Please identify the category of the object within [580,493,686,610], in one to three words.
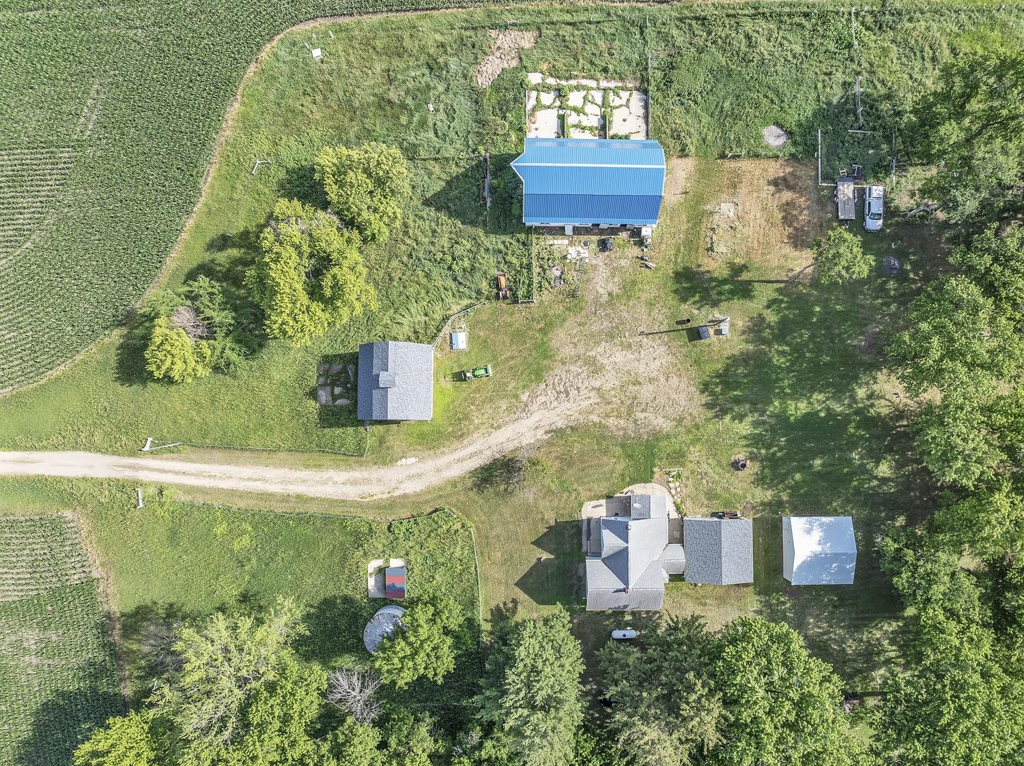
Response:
house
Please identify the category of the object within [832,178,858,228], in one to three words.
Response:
trailer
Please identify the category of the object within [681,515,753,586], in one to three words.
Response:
building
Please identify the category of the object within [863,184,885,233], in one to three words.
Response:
truck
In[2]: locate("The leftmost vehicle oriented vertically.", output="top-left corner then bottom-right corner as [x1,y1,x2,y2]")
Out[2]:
[496,270,510,300]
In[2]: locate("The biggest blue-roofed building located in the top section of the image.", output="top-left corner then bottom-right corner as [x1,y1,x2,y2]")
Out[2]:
[508,137,667,229]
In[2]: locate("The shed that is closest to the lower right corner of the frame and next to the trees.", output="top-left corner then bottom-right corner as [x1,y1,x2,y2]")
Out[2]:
[784,515,859,586]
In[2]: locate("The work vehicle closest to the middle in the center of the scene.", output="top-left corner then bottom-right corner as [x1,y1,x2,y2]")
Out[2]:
[467,366,493,380]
